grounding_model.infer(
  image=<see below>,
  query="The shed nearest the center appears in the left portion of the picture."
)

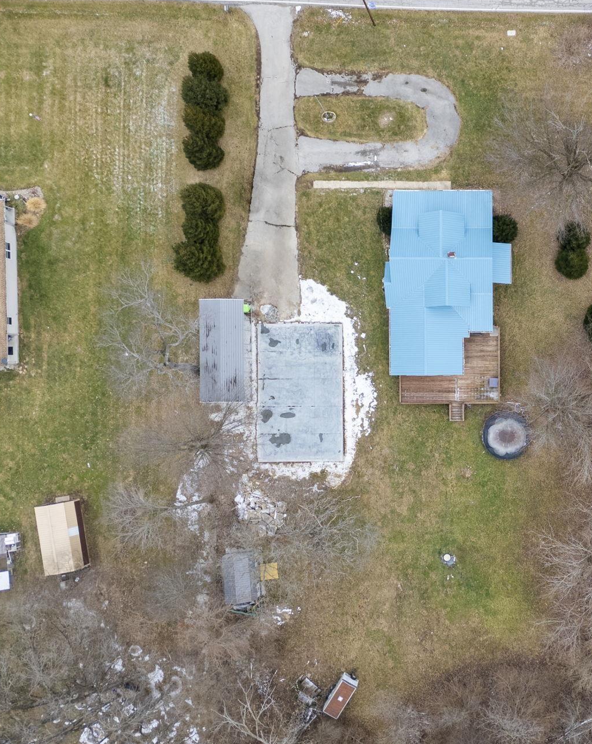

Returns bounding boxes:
[199,298,252,403]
